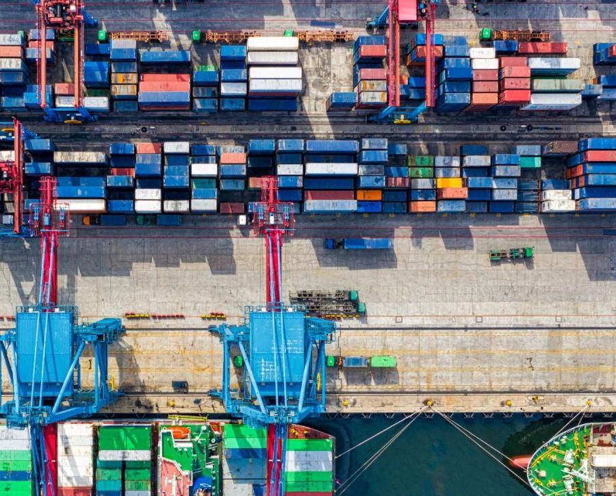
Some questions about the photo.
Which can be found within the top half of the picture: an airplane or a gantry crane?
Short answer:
gantry crane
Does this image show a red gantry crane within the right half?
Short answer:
Yes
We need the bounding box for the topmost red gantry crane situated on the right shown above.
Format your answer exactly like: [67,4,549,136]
[363,0,442,127]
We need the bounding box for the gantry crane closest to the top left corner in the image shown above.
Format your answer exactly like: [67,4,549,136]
[35,0,98,127]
